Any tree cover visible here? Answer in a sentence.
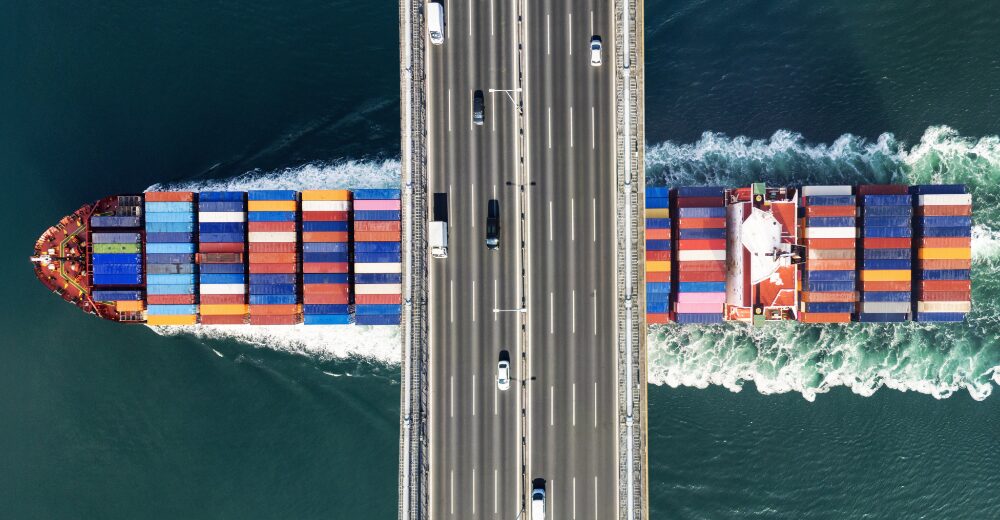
No, tree cover can't be seen anywhere here.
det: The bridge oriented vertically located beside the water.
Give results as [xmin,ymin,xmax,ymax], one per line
[396,0,646,520]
